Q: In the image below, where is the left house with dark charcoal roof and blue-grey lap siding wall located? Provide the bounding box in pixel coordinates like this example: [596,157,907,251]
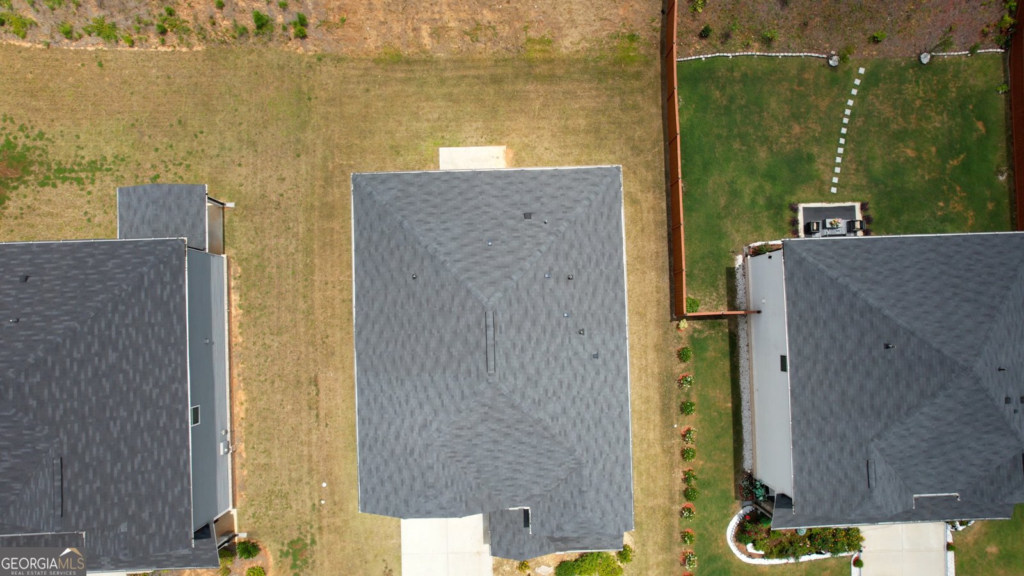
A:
[0,184,241,575]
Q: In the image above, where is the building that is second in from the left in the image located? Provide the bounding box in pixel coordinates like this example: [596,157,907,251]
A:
[350,164,634,560]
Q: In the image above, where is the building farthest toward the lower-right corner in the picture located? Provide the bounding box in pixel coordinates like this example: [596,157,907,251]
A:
[746,231,1024,530]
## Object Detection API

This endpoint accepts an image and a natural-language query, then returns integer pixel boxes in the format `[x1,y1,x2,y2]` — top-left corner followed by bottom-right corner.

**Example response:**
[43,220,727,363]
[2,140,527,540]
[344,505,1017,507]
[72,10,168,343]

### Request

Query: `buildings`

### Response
[350,164,634,560]
[0,184,241,575]
[746,231,1024,530]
